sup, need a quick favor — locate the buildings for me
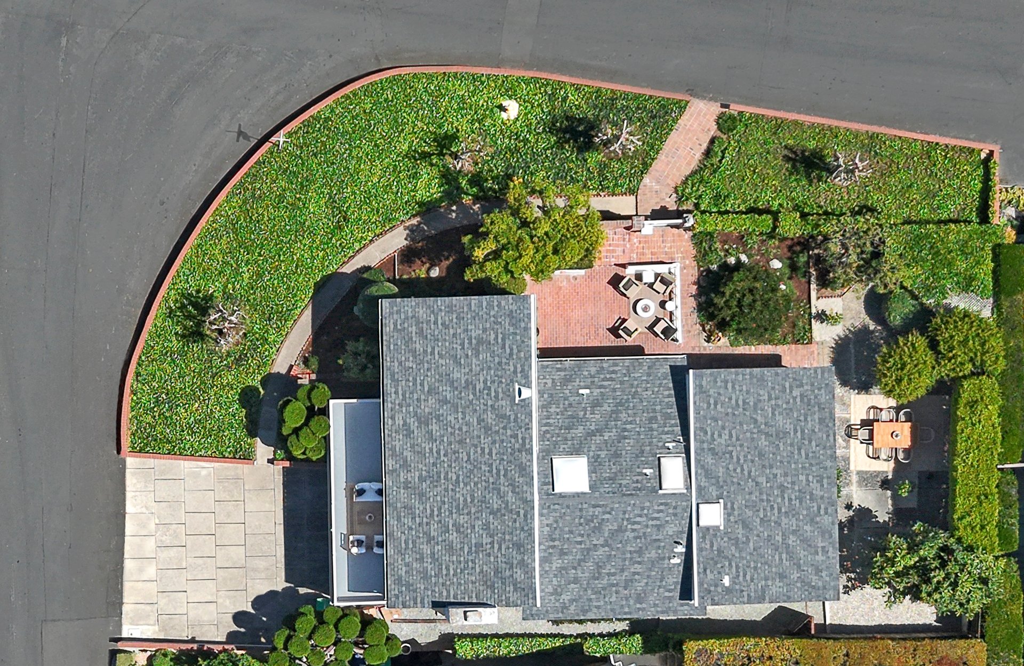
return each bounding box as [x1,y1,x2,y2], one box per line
[324,294,840,624]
